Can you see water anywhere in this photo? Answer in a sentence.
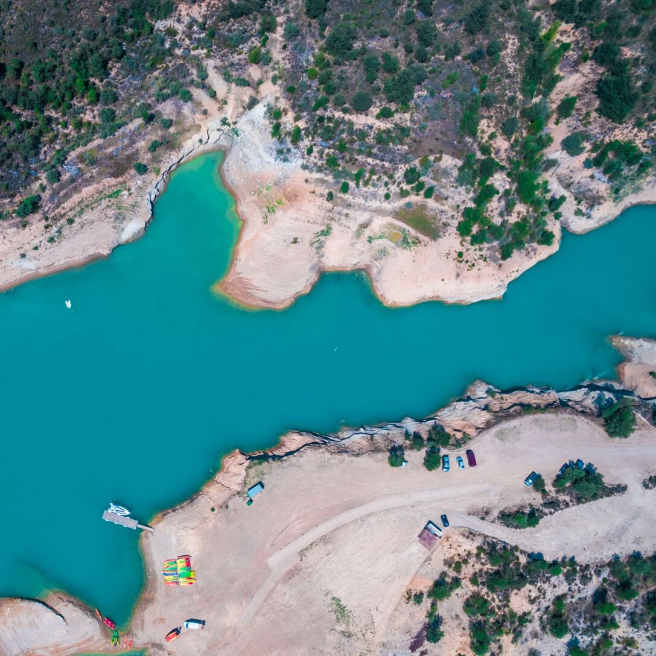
Yes, water shows up in the scene.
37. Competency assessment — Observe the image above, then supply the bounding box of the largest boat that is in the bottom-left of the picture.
[109,504,131,516]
